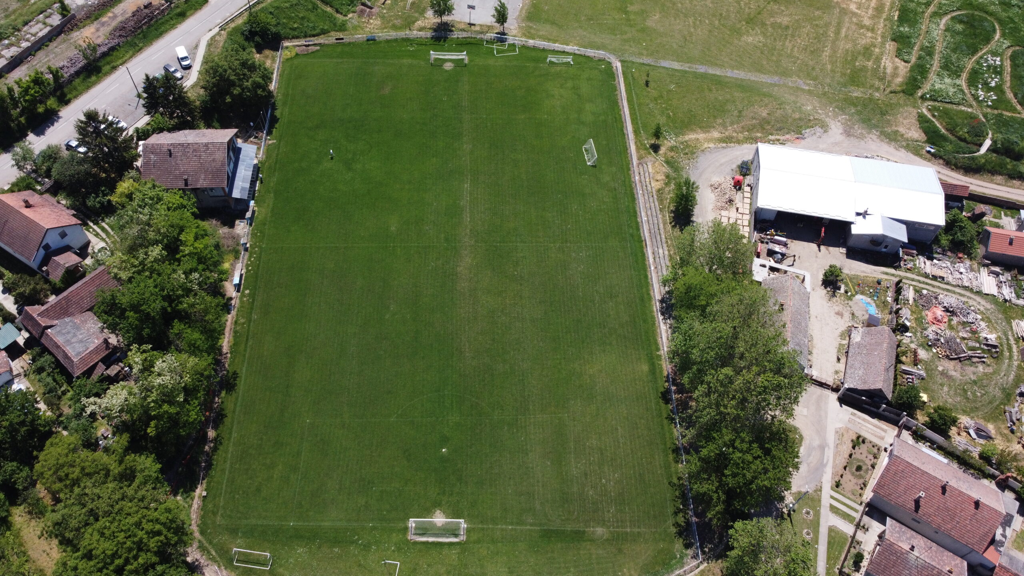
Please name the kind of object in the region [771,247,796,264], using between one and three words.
work vehicle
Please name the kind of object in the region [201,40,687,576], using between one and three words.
soccer field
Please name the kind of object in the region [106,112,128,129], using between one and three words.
car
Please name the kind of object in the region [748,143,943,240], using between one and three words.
building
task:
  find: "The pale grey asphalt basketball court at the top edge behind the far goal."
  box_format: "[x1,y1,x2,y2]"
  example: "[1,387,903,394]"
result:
[428,0,520,28]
